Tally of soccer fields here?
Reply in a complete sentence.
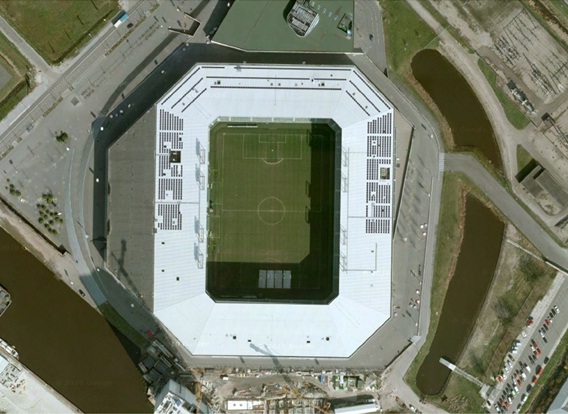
My tally gives 1 soccer field in this photo.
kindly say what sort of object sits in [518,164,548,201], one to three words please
shed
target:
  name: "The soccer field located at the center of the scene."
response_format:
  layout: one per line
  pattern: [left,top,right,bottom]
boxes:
[209,123,335,297]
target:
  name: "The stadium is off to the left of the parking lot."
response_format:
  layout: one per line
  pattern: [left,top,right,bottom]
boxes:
[105,64,395,358]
